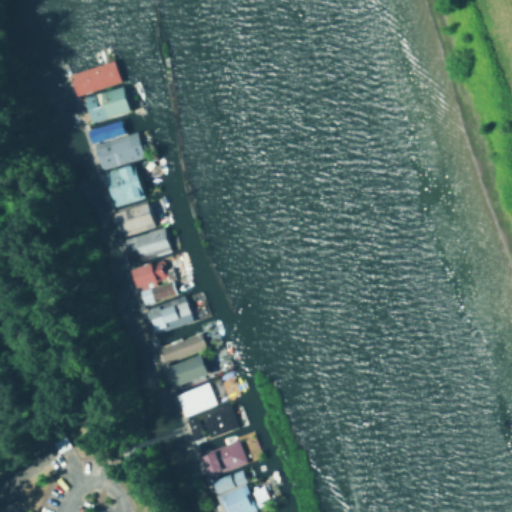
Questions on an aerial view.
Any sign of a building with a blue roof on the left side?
Yes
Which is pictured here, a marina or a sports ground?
marina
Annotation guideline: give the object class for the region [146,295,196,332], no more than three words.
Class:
boat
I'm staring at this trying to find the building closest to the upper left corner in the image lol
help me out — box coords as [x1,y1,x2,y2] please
[88,120,128,144]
